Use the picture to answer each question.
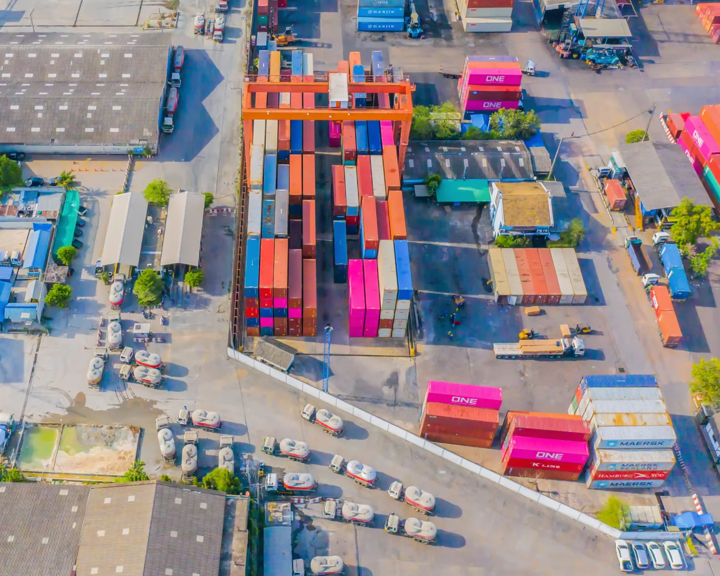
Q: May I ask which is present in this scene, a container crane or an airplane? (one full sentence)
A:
The one in the frame is a container crane.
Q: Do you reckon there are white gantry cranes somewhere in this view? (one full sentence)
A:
No, there isn't any white gantry crane down there.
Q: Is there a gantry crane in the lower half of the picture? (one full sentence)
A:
No, no gantry crane is visible in the lower half of the picture.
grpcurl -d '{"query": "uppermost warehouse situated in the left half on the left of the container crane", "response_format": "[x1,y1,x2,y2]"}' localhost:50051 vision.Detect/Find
[0,31,175,162]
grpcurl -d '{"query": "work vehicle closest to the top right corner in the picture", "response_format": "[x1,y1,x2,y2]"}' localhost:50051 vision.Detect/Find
[587,49,616,68]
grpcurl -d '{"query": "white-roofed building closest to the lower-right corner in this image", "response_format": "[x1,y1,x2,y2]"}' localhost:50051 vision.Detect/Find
[623,506,663,530]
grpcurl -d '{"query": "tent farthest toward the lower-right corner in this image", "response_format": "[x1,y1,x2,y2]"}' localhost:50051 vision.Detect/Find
[668,512,714,530]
